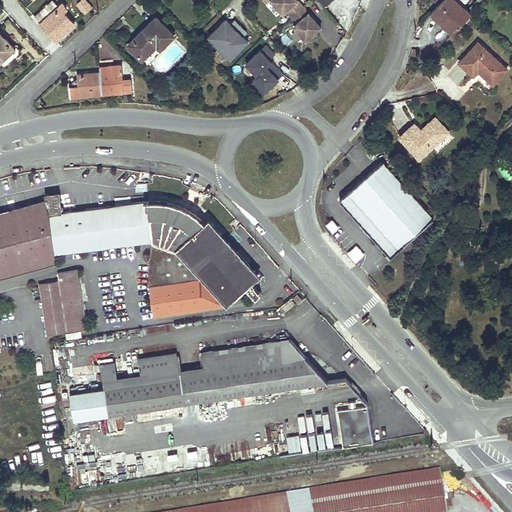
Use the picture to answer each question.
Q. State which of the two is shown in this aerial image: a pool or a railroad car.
pool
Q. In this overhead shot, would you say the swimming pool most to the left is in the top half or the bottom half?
top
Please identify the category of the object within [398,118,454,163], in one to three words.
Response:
house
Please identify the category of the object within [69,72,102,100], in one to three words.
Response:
house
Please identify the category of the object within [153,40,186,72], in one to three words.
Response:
swimming pool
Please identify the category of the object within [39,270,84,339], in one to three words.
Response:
building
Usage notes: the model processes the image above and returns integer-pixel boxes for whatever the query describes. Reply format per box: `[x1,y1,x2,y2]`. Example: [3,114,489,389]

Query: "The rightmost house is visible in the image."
[458,37,508,88]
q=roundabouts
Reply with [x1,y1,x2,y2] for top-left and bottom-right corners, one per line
[218,114,318,214]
